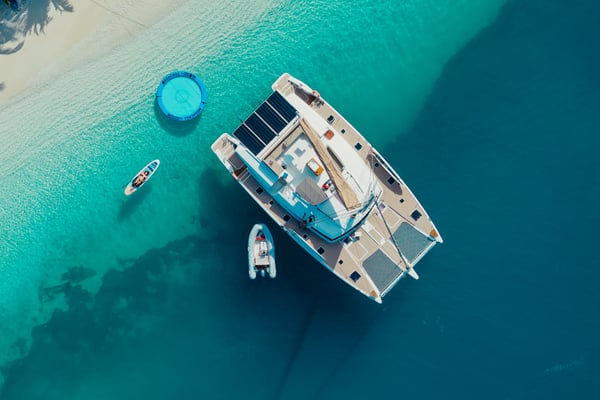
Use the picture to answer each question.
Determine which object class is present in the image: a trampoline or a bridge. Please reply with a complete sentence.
There is a trampoline in the scene.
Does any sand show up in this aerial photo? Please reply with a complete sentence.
Yes, the picture does contain sand.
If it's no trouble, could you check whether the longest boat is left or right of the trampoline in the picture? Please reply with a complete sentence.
From the viewer's perspective, the longest boat falls to the right of the trampoline.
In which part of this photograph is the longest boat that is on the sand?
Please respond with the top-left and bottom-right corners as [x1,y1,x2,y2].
[213,75,441,303]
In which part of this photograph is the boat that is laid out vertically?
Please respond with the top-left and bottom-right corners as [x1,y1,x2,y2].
[248,222,277,280]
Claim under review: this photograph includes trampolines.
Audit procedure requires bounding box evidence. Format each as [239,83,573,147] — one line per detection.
[154,71,208,124]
